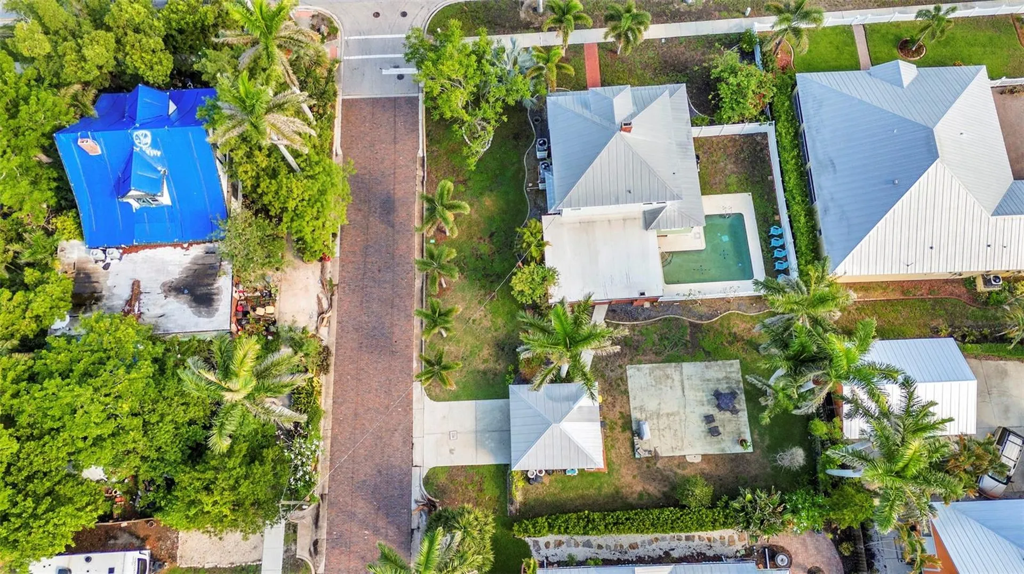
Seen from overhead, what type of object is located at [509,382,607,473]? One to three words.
building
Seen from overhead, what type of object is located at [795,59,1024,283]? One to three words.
house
